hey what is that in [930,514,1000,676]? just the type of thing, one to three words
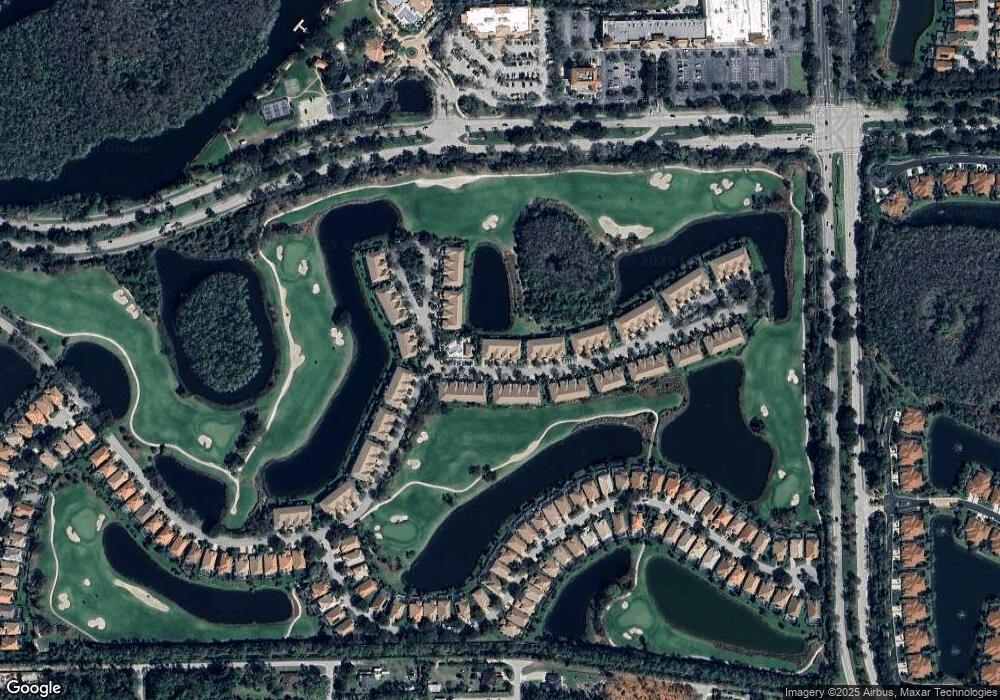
pond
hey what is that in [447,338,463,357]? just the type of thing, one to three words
swimming pool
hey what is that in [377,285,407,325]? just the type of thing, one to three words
house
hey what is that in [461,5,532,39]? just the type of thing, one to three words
building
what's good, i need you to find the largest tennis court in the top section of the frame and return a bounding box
[262,98,291,120]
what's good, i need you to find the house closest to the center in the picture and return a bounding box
[482,340,521,365]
